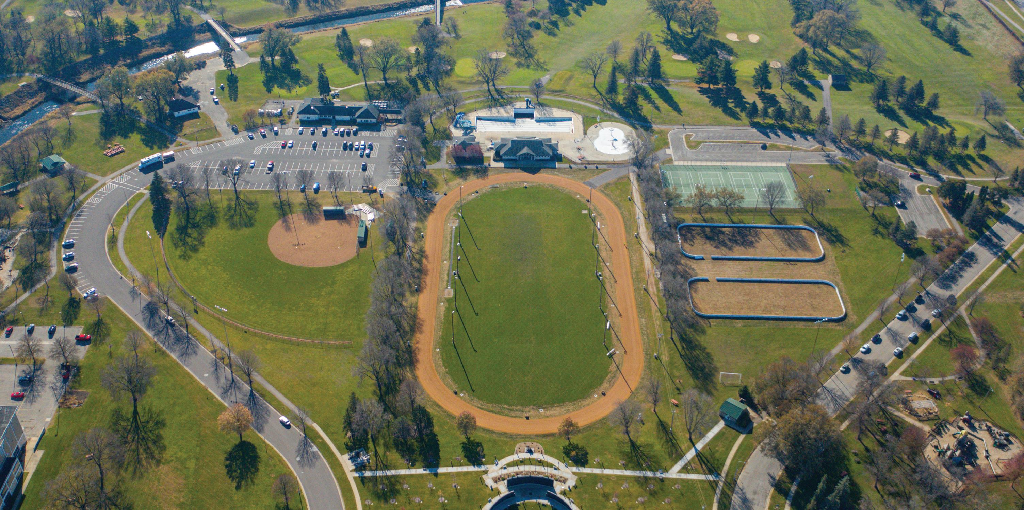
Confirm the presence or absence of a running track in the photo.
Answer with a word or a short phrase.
Yes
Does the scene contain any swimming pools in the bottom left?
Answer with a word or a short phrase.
No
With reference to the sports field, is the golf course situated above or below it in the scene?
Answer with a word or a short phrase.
above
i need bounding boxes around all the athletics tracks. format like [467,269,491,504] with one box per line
[414,172,644,434]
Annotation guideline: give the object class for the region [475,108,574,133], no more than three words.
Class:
swimming pool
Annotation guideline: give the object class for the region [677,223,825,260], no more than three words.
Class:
sports court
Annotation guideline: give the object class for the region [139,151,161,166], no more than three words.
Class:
camper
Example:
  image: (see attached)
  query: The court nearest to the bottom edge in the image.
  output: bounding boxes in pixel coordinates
[688,277,847,320]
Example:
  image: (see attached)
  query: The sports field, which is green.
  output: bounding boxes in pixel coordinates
[440,185,612,407]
